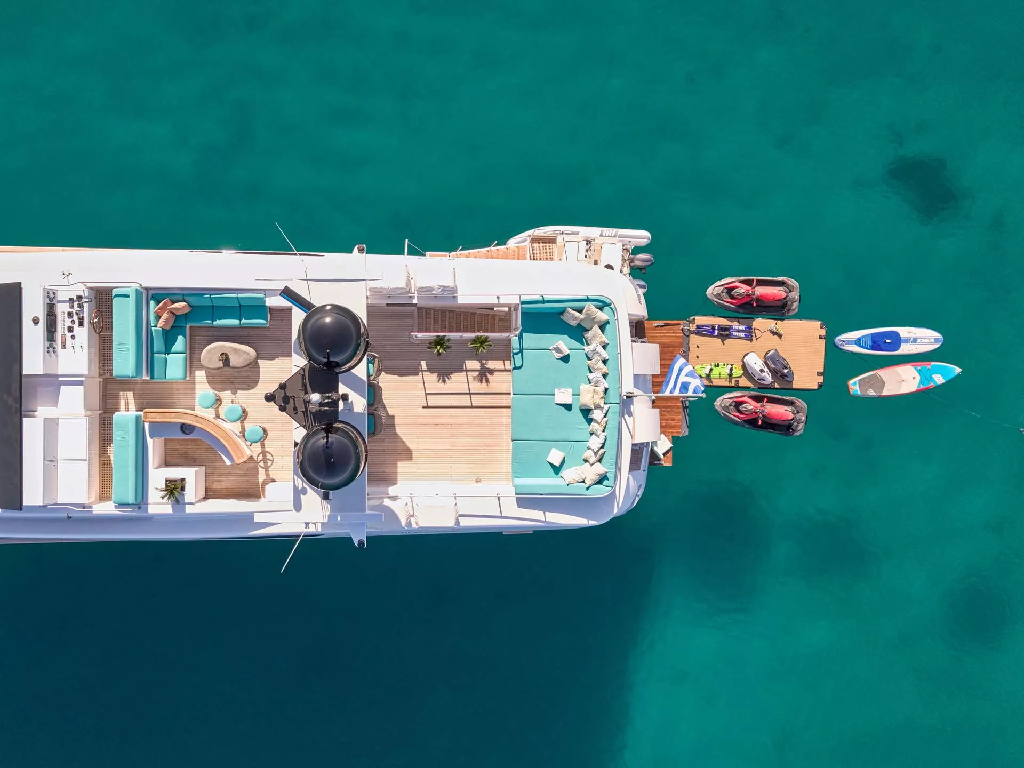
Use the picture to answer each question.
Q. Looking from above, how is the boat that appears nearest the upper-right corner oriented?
horizontally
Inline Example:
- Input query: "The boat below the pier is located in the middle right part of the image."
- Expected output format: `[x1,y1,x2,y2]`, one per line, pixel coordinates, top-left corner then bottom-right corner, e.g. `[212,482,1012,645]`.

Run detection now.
[712,391,811,433]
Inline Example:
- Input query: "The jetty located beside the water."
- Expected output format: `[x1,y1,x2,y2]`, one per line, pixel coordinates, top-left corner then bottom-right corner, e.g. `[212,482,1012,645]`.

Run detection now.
[680,316,825,389]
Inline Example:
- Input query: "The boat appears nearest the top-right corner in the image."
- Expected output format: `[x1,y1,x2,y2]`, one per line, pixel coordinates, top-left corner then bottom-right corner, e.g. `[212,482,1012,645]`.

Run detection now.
[704,276,802,314]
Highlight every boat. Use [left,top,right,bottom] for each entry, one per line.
[712,391,811,433]
[510,225,655,293]
[0,223,689,574]
[704,276,802,314]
